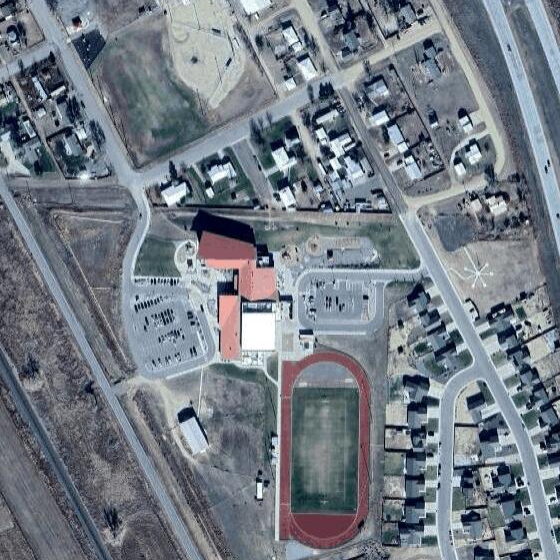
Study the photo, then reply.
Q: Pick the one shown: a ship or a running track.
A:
running track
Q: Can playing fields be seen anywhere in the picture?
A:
Yes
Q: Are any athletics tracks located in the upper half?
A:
No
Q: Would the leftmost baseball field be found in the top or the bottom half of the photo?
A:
top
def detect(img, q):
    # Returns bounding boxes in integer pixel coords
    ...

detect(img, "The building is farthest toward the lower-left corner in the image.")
[179,417,209,453]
